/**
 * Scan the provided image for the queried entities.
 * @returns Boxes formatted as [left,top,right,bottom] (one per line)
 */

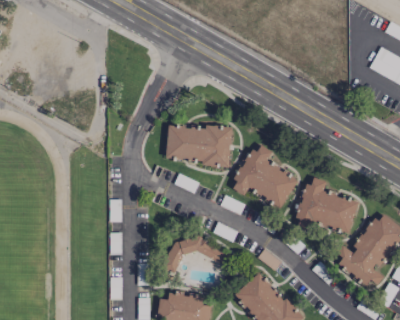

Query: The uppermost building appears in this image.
[166,126,234,169]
